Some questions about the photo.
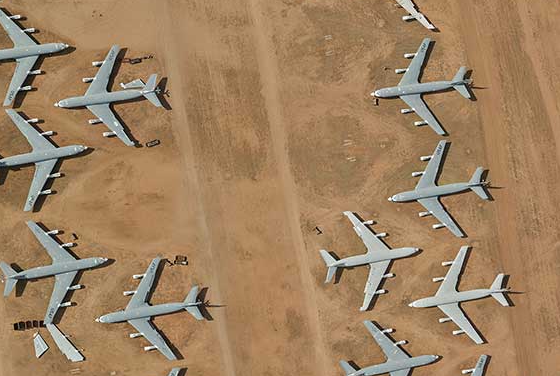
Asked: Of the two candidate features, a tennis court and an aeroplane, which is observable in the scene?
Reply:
aeroplane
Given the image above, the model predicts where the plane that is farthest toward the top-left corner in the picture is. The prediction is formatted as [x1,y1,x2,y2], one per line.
[0,9,69,106]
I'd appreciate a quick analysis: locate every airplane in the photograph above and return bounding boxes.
[392,0,433,29]
[0,108,88,211]
[0,221,107,324]
[320,212,419,311]
[389,140,491,237]
[96,258,210,360]
[0,9,69,106]
[54,45,164,146]
[371,38,472,135]
[409,246,513,344]
[340,320,438,376]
